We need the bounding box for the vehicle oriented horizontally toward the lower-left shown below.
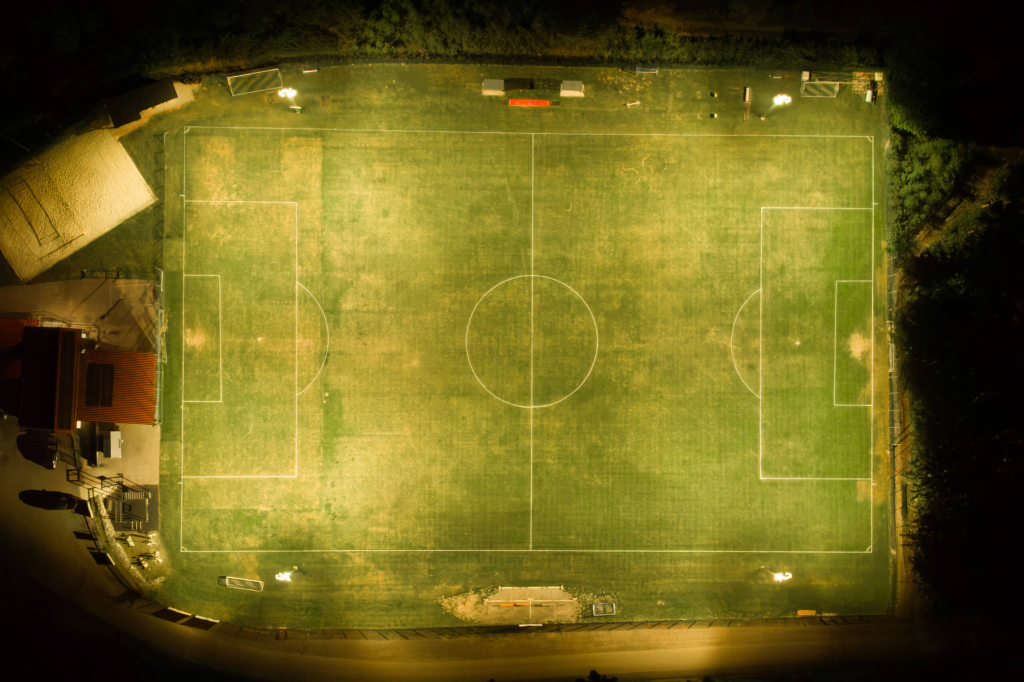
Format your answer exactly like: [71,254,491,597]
[44,494,75,509]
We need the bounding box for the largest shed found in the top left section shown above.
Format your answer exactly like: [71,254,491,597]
[107,79,179,129]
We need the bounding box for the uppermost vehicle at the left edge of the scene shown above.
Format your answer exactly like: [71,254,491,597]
[41,437,58,469]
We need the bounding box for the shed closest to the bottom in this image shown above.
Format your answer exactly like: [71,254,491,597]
[104,431,123,458]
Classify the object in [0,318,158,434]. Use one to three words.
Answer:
building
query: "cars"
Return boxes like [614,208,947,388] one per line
[44,494,75,509]
[41,437,58,469]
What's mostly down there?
grass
